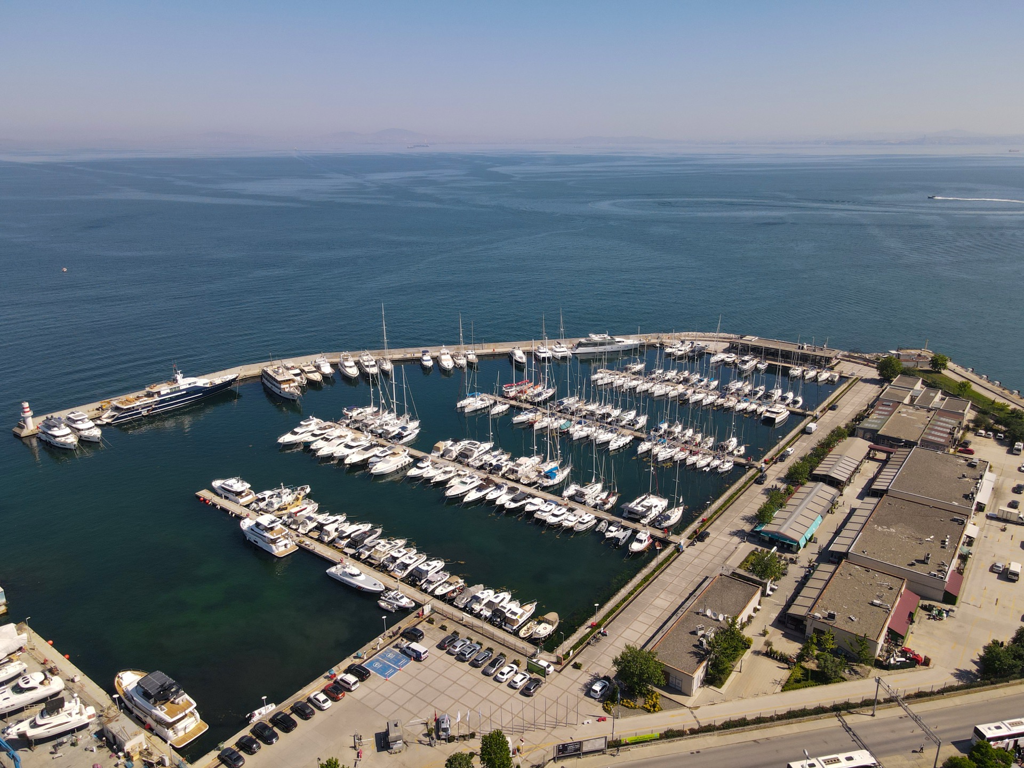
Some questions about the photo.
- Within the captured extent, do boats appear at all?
Yes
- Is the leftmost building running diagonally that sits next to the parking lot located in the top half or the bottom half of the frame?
bottom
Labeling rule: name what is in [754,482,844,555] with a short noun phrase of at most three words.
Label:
building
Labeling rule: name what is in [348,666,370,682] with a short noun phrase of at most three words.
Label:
car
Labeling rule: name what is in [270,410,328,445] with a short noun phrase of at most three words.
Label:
boat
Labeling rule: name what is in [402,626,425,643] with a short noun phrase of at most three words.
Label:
vehicle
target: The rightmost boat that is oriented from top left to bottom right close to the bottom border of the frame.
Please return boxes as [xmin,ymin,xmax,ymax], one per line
[110,671,220,760]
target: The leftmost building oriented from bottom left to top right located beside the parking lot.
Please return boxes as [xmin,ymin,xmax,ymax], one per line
[647,574,761,694]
